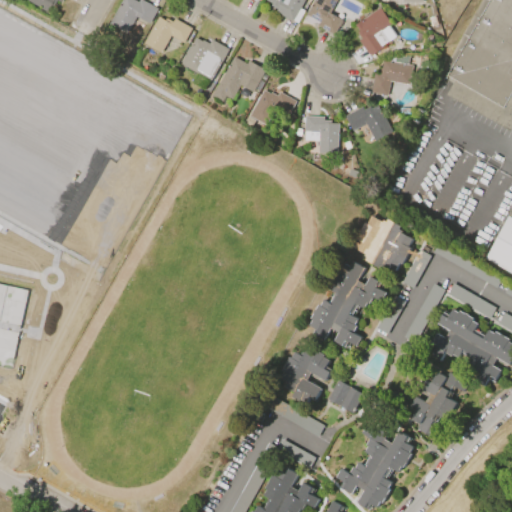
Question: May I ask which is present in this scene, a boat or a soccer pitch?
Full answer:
Of the two, only a soccer pitch appears.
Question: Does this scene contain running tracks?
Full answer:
Yes, a running track can be made out from above.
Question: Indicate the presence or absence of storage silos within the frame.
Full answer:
No, the photo shows no storage silo.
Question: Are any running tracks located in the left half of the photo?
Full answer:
Yes, in the left half of the photo there is a running track.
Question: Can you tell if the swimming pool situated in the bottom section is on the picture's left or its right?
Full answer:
The swimming pool situated in the bottom section is on the right side of the image.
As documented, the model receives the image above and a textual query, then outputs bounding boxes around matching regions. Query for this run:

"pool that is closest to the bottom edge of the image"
[364,352,387,380]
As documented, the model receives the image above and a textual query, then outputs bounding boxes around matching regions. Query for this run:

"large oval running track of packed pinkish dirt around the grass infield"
[42,152,314,500]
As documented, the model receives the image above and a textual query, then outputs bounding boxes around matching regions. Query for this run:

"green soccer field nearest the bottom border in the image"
[61,165,302,488]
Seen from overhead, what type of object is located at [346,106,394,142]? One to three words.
house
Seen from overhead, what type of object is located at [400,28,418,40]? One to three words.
swimming pool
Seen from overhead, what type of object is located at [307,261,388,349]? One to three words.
building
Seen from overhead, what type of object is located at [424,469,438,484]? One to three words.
vehicle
